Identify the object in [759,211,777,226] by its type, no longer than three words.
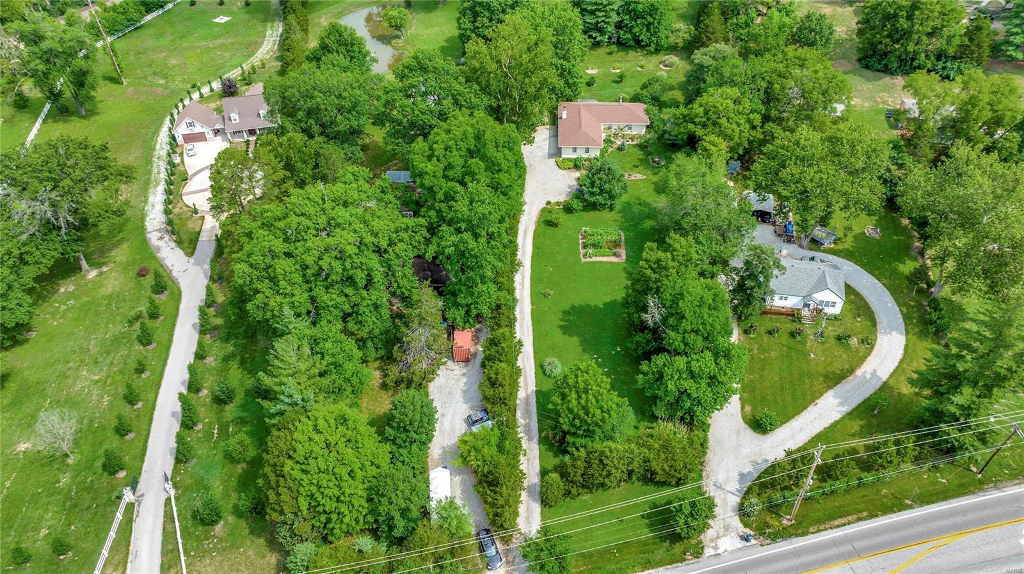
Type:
car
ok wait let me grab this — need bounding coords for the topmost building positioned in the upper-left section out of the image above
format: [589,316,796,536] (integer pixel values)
[173,73,280,144]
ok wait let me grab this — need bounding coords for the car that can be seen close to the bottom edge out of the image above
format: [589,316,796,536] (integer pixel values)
[476,528,503,571]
